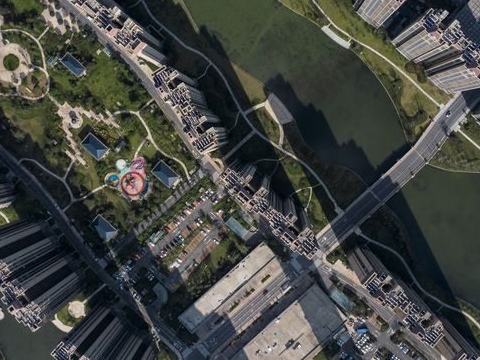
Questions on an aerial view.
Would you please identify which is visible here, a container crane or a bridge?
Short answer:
bridge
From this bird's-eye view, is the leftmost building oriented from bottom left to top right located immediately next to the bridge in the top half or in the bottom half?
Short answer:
bottom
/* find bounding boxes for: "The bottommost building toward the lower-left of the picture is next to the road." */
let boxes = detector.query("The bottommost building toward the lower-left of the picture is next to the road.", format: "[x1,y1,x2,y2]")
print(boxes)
[51,298,163,360]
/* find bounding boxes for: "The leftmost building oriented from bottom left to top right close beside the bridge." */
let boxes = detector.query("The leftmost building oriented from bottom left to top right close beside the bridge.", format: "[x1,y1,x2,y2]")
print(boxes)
[177,240,278,333]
